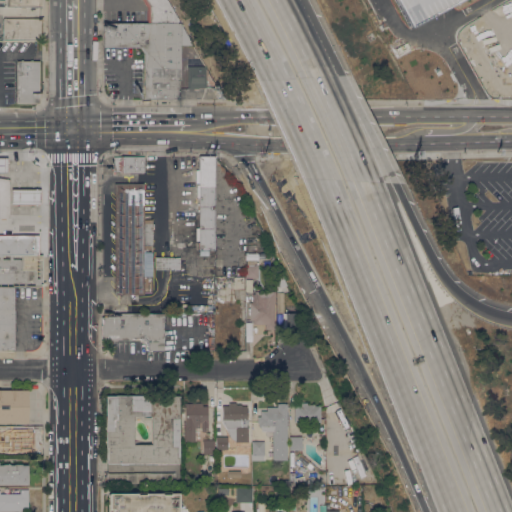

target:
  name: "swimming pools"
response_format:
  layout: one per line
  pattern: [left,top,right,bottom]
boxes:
[136,422,148,441]
[305,444,322,465]
[310,496,319,512]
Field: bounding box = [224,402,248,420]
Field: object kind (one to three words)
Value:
house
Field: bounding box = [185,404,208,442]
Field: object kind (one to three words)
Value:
house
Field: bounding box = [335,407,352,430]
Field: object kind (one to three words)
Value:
vehicle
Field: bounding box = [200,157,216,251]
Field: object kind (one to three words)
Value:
building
